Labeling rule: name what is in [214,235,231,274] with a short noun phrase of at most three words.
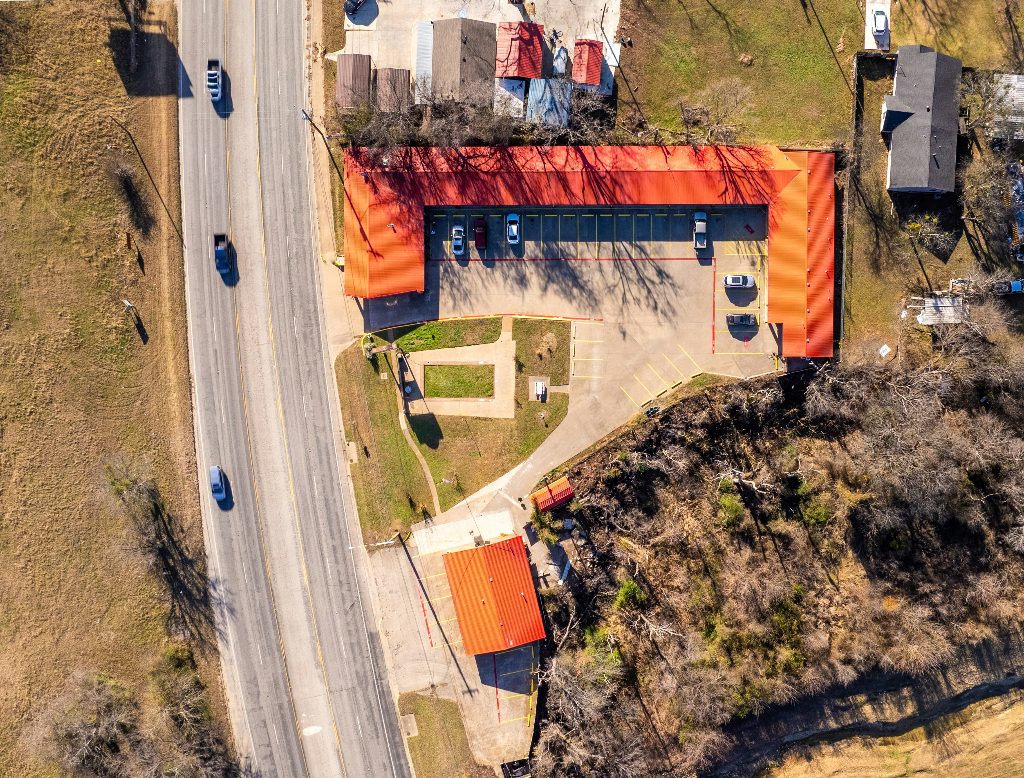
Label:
vehicle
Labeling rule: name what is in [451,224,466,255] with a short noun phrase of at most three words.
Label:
car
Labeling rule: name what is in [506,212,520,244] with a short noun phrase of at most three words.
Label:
car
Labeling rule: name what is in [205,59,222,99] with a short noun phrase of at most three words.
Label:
vehicle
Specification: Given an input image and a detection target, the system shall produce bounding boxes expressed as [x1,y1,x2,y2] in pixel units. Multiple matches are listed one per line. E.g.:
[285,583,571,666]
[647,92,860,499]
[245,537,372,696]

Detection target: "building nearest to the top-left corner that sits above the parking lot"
[337,53,373,113]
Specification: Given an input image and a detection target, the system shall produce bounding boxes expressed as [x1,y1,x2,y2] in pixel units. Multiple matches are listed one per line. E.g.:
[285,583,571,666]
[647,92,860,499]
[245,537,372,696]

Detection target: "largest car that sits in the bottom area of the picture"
[209,468,227,502]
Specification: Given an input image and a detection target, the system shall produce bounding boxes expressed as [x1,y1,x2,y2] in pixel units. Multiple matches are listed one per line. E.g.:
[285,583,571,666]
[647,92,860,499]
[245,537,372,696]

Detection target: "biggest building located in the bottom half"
[442,536,546,656]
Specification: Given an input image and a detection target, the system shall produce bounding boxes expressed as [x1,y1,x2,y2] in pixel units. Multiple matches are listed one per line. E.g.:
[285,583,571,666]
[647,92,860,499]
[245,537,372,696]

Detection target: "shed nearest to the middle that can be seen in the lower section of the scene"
[528,477,575,512]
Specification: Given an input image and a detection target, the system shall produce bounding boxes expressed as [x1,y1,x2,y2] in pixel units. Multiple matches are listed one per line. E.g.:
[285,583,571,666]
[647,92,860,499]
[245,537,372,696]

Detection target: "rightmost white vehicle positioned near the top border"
[872,2,889,34]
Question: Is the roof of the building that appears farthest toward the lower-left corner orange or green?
orange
